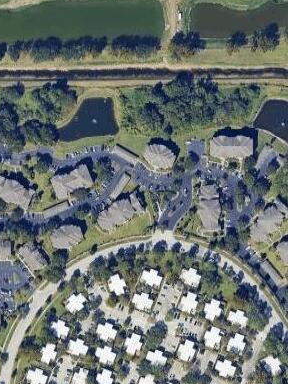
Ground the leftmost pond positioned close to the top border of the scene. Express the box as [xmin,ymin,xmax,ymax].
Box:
[0,0,166,42]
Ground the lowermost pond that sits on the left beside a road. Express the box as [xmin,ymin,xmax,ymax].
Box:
[57,97,119,143]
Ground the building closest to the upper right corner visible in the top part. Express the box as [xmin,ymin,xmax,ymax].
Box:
[211,135,254,158]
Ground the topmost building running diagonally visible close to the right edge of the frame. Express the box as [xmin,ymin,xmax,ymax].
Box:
[248,196,288,244]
